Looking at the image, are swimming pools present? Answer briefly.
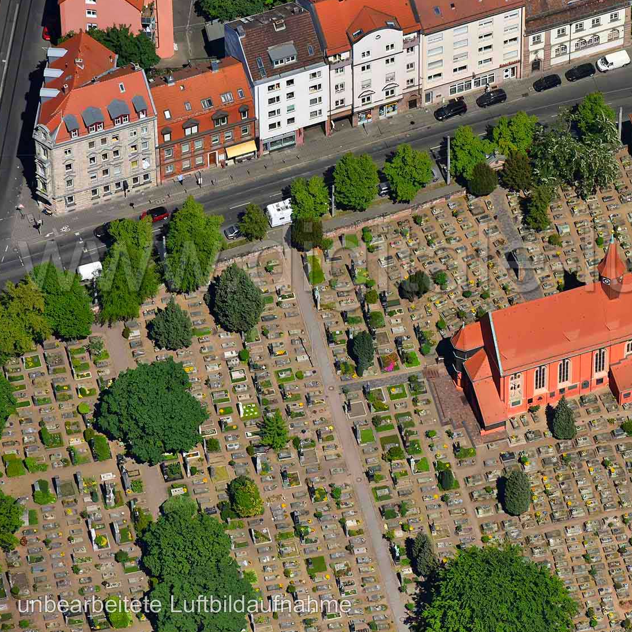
No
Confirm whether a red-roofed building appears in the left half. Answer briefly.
Yes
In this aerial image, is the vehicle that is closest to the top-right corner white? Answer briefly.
Yes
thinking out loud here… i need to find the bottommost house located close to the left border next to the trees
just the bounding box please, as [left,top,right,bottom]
[31,36,158,214]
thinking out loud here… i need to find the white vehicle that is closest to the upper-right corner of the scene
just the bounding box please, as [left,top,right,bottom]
[596,47,631,71]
